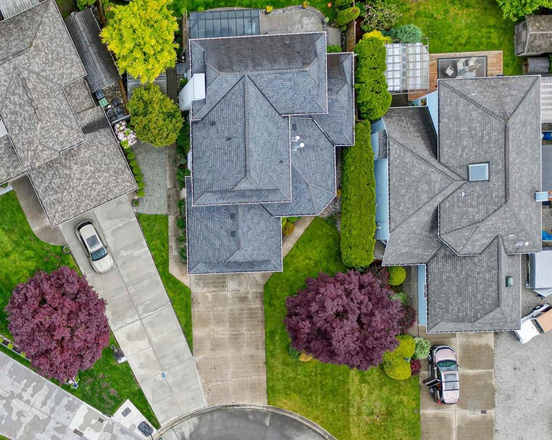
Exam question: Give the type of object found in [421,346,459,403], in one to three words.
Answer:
car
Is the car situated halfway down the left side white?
Yes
